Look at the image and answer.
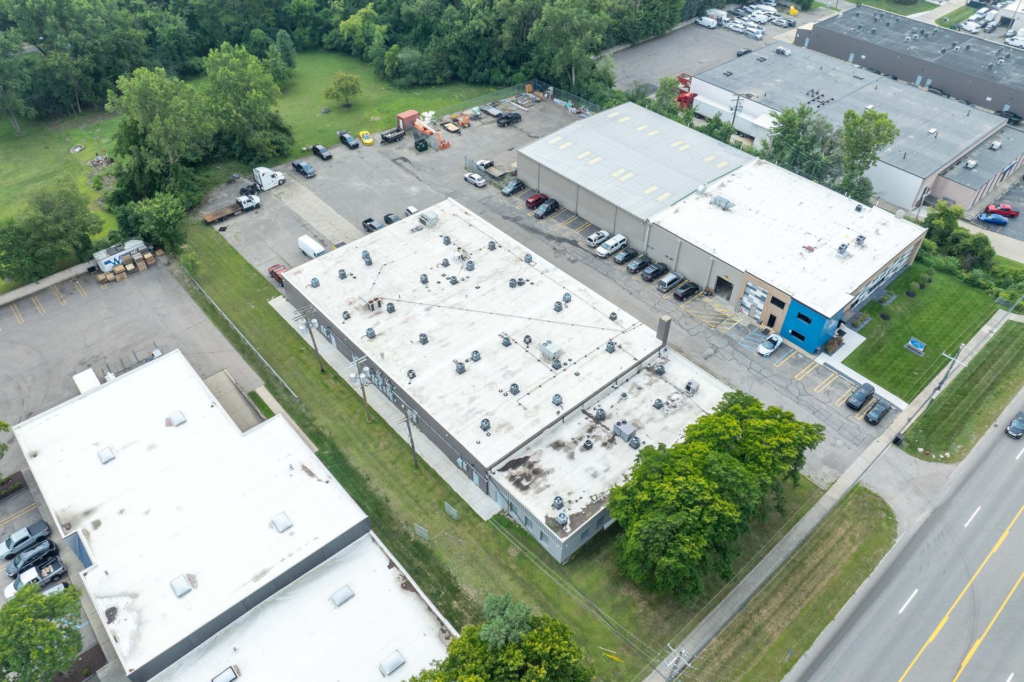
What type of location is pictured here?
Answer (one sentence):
This looks like an industrial area.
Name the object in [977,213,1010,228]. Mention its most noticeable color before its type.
blue car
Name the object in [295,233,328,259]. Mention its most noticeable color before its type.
white vehicle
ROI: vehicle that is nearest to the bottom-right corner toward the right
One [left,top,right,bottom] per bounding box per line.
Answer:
[1001,410,1024,441]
